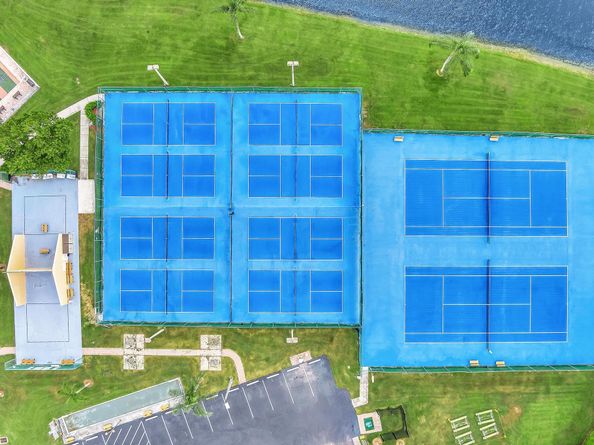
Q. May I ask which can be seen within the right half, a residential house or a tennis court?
tennis court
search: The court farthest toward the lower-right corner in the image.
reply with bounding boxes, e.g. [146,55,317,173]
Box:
[404,266,568,343]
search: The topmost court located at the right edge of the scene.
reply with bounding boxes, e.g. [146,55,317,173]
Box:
[404,160,567,236]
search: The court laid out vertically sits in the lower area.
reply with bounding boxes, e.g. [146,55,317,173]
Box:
[3,178,82,365]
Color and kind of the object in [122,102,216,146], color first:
blue sports court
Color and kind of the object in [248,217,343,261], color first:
blue sports court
